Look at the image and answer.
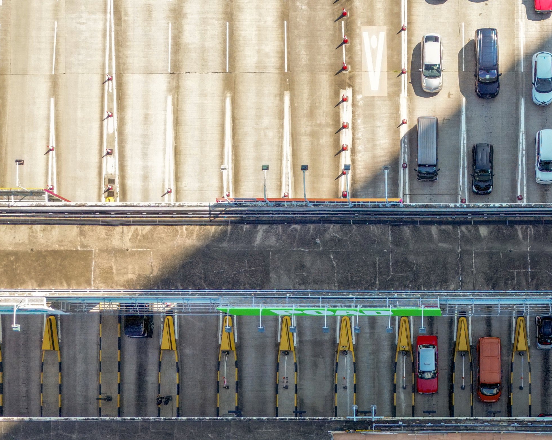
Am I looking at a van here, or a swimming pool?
van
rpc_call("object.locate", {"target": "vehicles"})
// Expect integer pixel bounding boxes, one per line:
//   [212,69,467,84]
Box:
[475,339,503,402]
[126,309,154,340]
[531,53,552,105]
[533,0,552,16]
[471,141,495,197]
[534,316,552,351]
[419,35,445,93]
[414,336,440,394]
[534,131,552,183]
[474,32,501,96]
[415,119,440,180]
